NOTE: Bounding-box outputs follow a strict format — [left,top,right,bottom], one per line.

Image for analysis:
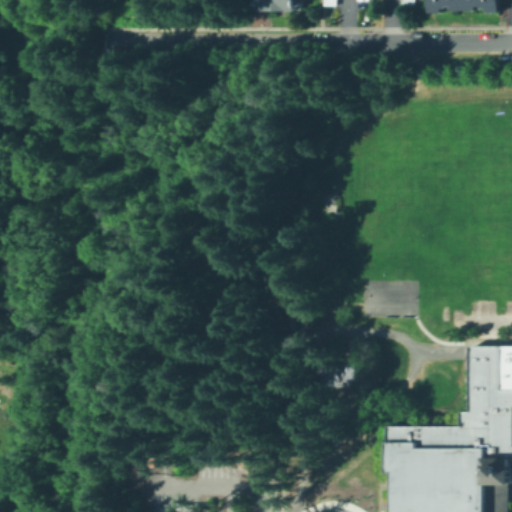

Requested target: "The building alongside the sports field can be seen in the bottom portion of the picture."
[383,346,512,512]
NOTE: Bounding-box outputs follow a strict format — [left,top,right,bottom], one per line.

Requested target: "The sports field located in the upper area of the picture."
[348,104,512,274]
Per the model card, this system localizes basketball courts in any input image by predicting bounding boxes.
[363,281,418,316]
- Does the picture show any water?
No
